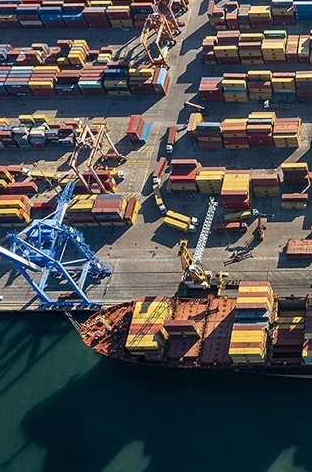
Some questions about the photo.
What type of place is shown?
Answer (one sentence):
This image shows a port.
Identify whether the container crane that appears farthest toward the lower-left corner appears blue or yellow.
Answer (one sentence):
The color of the container crane that appears farthest toward the lower-left corner is blue.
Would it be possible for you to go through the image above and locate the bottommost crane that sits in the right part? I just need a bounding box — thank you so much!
[161,196,250,296]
